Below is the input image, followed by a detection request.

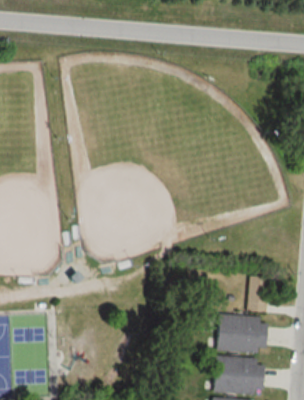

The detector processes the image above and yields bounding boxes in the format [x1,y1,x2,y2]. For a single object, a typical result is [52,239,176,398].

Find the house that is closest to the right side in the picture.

[248,276,270,312]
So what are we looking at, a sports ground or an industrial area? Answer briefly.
sports ground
